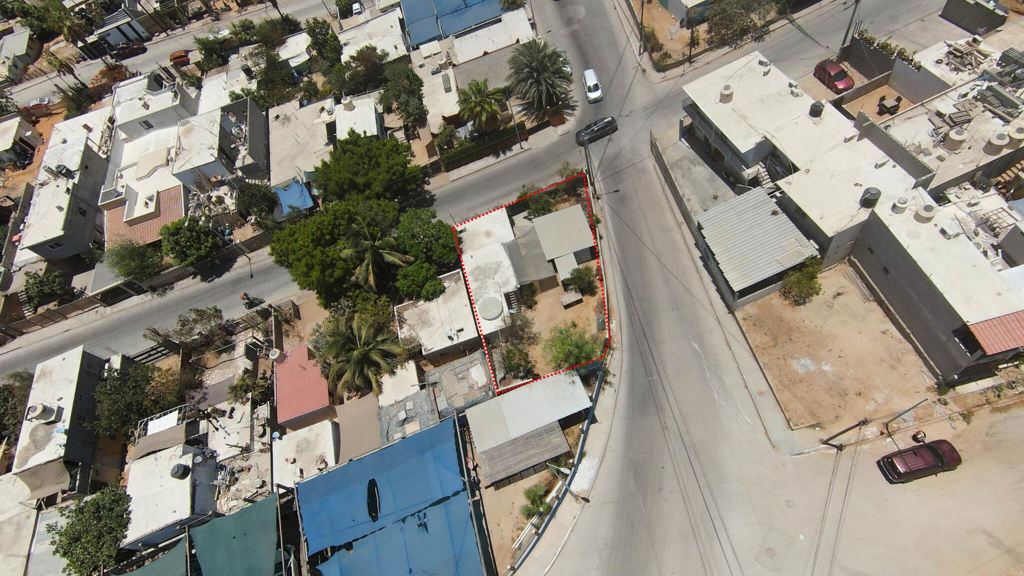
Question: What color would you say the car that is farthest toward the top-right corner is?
red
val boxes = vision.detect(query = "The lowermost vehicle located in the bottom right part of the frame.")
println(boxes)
[876,440,963,483]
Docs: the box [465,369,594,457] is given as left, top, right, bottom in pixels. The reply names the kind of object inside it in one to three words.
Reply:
shed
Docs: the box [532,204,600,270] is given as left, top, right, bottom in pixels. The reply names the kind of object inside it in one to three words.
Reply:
shed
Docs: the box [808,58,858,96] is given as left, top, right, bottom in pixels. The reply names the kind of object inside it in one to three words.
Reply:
car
